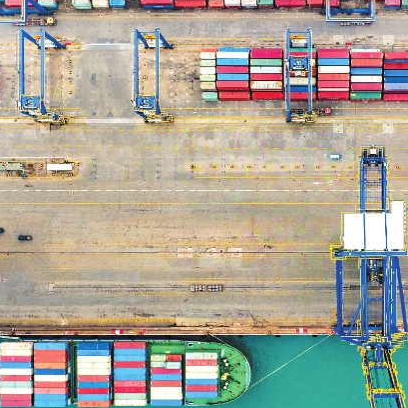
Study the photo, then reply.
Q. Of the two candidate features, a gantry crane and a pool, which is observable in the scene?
gantry crane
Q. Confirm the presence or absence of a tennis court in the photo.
No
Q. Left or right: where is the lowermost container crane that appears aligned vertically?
right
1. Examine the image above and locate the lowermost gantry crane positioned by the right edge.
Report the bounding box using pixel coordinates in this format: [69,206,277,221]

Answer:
[323,145,408,408]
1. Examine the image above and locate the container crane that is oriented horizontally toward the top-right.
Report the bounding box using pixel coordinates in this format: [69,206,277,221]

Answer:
[316,0,375,25]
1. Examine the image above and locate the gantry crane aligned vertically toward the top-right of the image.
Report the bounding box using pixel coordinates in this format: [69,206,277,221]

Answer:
[282,29,318,124]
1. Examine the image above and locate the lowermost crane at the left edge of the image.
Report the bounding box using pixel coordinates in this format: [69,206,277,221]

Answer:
[15,29,71,124]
